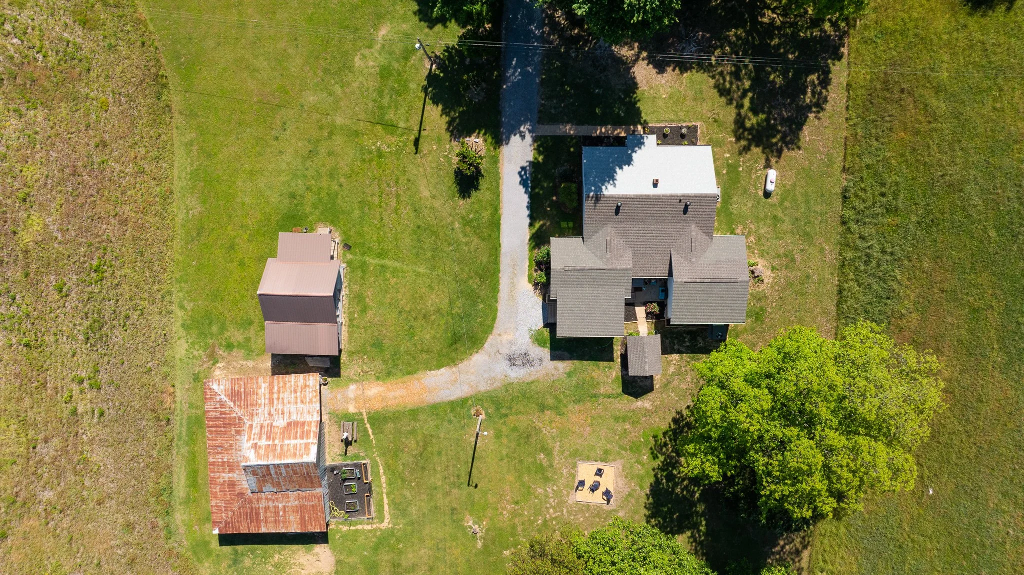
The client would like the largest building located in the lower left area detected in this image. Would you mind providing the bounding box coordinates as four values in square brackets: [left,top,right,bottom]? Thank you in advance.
[203,373,330,534]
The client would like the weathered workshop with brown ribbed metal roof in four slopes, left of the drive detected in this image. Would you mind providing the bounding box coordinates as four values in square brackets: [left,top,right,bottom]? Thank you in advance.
[257,232,348,356]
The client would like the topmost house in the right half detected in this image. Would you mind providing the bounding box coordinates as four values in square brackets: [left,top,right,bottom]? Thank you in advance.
[550,134,749,337]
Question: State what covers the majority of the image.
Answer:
grass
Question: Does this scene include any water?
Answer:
No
